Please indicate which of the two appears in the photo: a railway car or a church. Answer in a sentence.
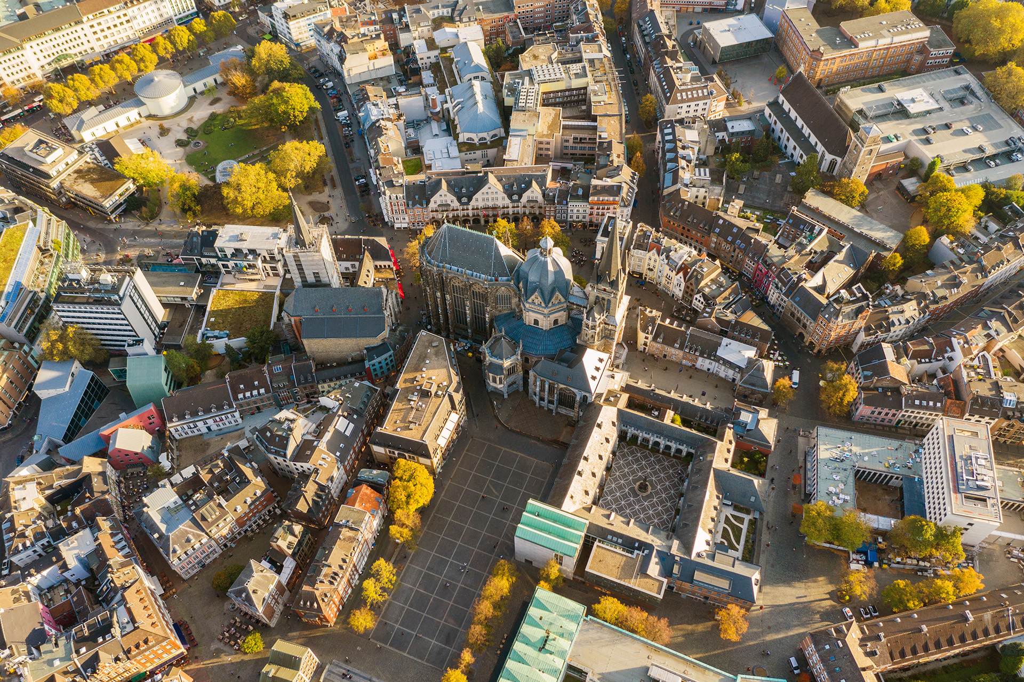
I can see a church in this picture.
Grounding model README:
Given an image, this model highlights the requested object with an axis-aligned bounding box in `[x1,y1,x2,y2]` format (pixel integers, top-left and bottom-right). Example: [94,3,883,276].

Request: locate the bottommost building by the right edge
[789,583,1024,682]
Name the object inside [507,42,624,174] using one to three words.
building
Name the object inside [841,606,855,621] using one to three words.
car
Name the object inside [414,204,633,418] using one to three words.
church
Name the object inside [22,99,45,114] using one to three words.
vehicle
